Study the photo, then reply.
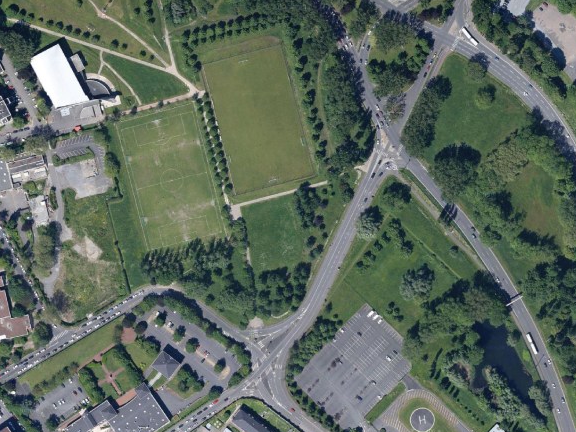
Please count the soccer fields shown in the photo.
2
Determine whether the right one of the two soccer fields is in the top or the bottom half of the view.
top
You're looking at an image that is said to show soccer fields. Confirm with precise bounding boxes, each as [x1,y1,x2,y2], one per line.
[115,103,227,252]
[201,33,318,199]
